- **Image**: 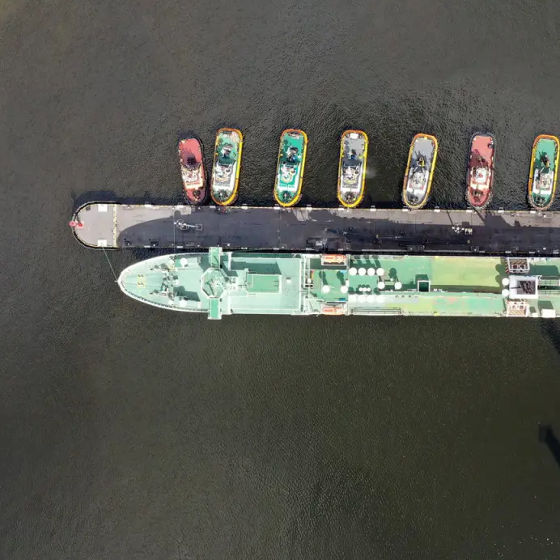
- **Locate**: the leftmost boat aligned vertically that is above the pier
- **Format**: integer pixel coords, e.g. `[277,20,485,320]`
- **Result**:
[178,137,211,206]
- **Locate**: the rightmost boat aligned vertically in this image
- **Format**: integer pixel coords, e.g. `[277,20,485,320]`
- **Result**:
[525,135,558,211]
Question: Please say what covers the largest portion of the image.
water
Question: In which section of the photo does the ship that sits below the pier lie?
center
